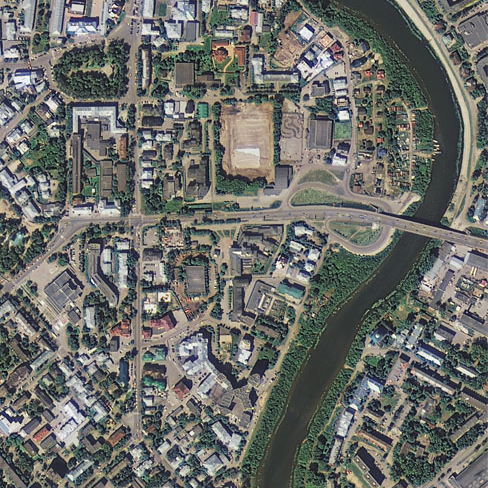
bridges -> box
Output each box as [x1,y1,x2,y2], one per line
[308,207,488,251]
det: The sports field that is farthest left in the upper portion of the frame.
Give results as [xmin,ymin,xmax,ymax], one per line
[221,102,274,182]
